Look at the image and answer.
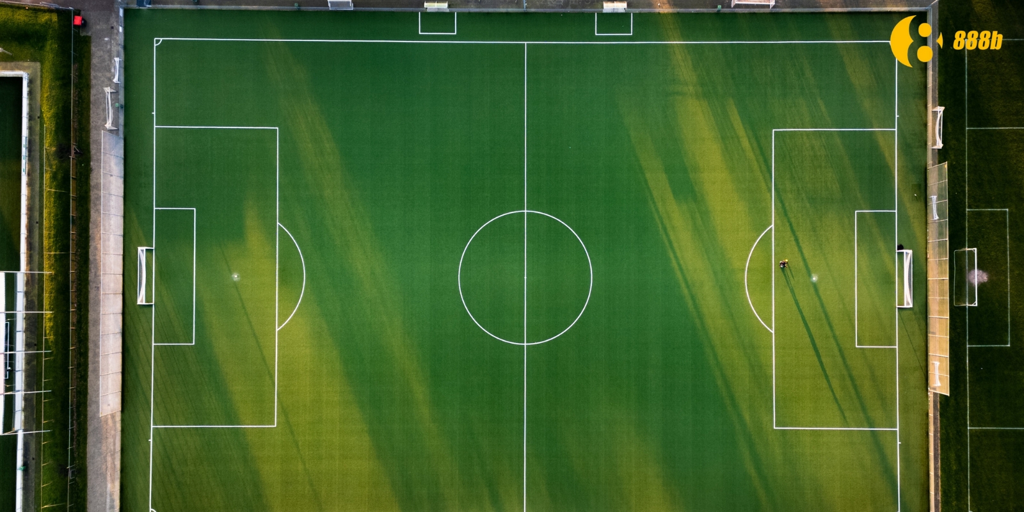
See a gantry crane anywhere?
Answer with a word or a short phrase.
No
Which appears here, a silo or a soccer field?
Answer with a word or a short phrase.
soccer field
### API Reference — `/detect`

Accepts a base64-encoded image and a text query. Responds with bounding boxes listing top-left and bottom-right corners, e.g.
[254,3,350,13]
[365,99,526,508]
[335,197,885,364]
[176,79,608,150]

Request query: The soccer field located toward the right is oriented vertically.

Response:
[942,0,1024,512]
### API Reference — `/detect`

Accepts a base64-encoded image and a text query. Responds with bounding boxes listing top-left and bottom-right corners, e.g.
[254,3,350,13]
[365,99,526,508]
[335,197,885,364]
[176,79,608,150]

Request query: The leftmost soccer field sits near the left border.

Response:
[0,76,28,512]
